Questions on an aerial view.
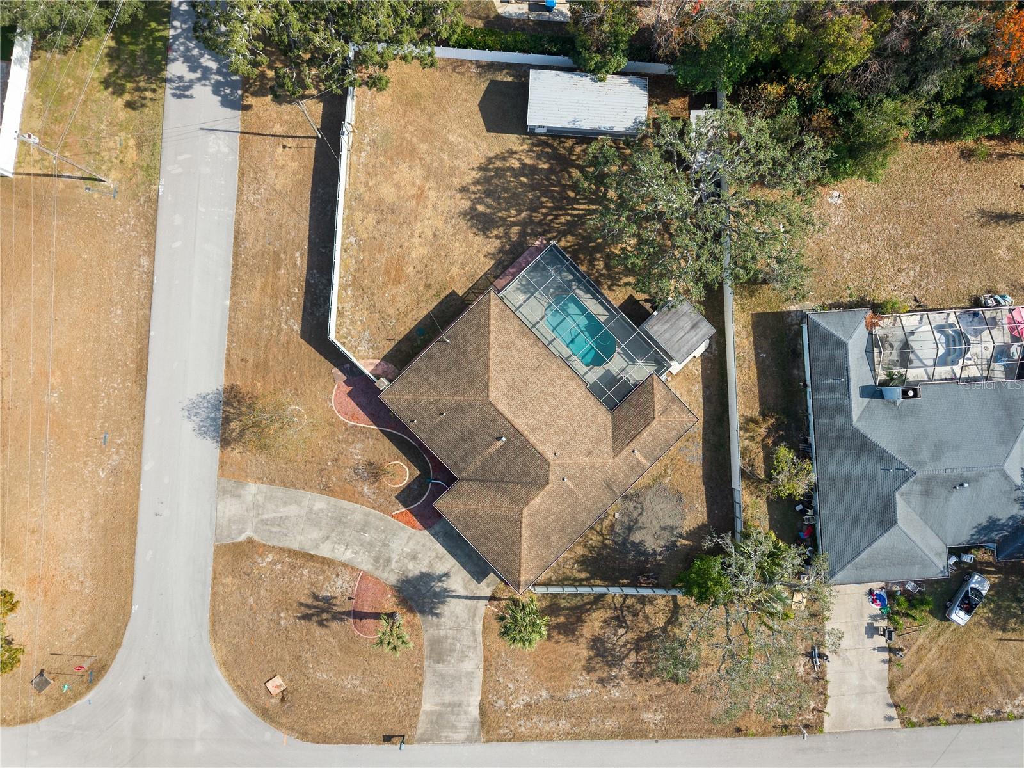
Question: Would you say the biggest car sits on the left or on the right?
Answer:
right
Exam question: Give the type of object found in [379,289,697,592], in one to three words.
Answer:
house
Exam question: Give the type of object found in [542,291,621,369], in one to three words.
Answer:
swimming pool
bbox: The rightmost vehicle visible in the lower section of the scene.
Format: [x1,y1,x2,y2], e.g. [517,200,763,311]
[950,573,991,627]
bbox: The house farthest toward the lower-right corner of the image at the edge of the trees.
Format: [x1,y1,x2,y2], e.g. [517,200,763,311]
[805,306,1024,585]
